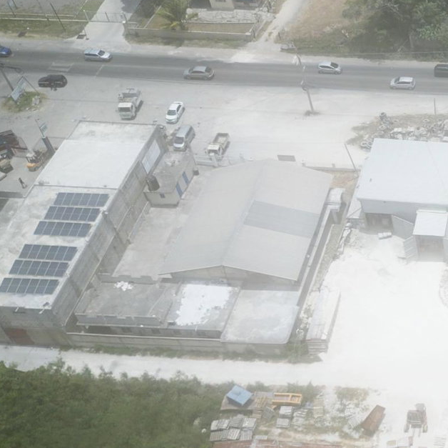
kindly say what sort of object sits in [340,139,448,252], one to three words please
building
